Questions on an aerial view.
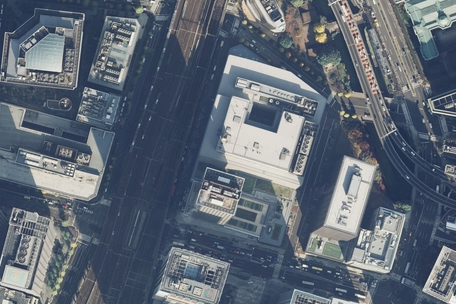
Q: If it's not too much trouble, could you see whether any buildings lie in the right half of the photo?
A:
Yes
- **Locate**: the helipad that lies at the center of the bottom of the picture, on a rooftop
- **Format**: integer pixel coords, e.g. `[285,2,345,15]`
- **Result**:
[203,286,217,300]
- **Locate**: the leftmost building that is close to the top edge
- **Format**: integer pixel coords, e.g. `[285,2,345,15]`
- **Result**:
[0,8,86,98]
